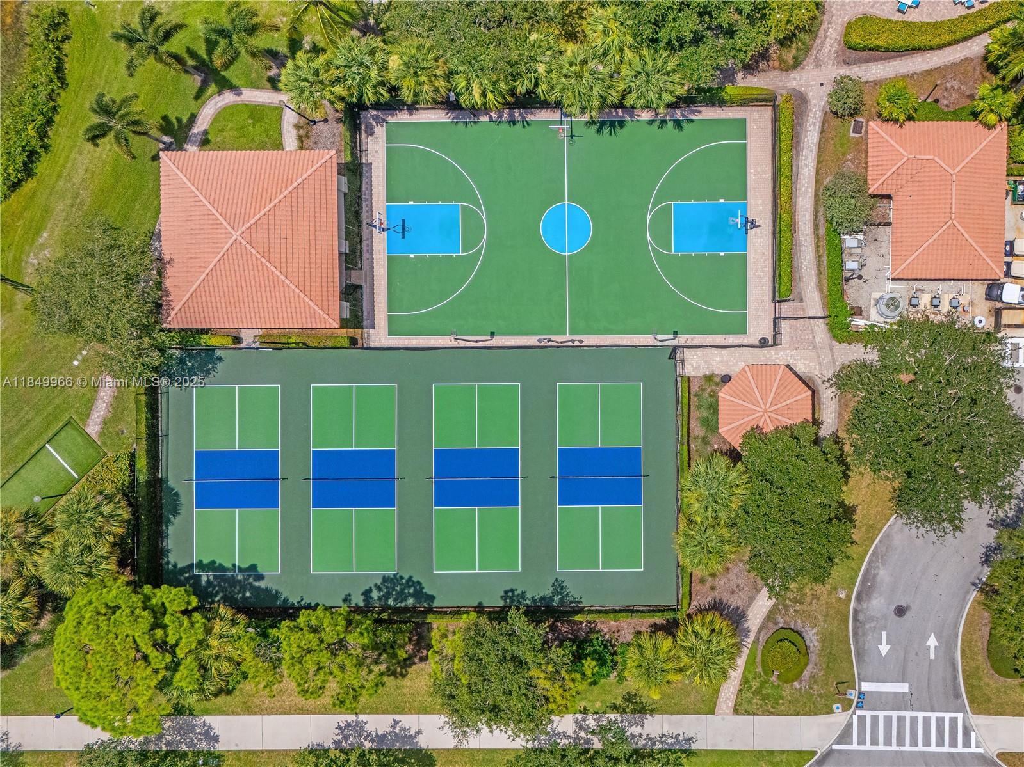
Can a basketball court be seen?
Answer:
Yes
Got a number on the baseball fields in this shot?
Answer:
0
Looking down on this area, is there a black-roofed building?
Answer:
No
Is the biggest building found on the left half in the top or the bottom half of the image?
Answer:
top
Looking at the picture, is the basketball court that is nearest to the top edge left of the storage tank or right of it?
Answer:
to the left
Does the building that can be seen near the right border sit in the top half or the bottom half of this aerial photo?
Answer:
top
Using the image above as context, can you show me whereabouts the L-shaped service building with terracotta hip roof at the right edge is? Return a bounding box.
[866,119,1008,281]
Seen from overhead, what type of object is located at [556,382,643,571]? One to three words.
sports court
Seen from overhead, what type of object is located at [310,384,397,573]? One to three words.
sports court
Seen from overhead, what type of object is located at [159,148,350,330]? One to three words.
building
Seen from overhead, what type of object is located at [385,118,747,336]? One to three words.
basketball court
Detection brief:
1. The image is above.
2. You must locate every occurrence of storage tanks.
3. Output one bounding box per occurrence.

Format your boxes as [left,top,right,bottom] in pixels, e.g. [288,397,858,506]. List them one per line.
[872,292,904,320]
